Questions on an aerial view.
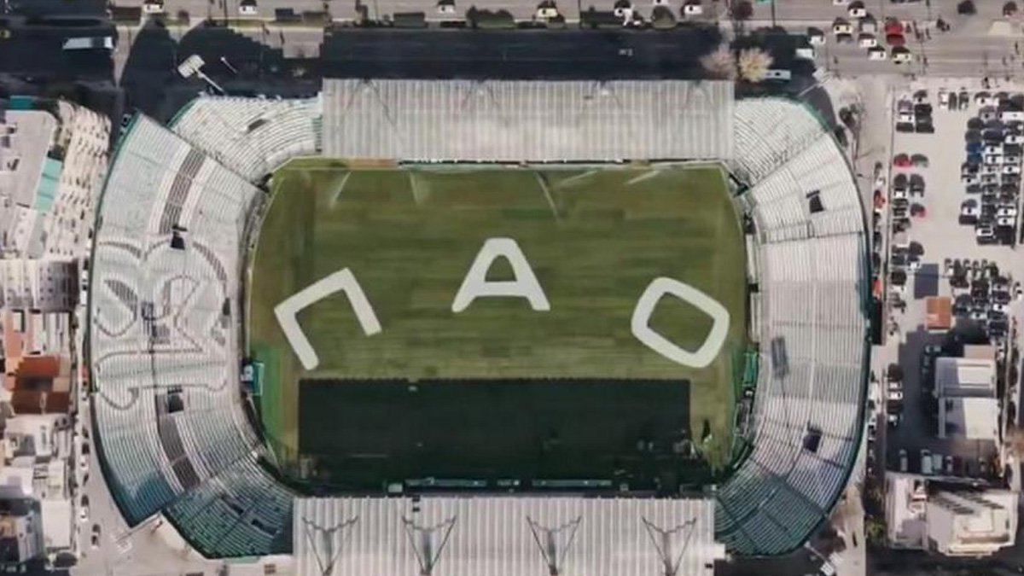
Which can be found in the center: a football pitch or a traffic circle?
football pitch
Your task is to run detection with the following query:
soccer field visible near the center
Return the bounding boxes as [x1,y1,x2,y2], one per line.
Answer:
[248,159,751,492]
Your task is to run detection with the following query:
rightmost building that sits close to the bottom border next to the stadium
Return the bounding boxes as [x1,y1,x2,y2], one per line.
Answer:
[909,467,1017,557]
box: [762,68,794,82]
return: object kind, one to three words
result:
vehicle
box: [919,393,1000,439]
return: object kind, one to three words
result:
building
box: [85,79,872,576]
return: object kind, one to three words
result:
stadium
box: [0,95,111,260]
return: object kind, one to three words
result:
building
